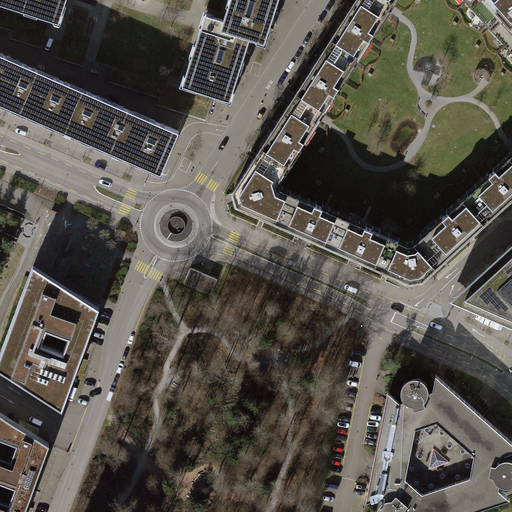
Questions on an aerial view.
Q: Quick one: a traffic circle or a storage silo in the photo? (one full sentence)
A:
I can see a traffic circle in this picture.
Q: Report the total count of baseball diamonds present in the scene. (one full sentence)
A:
Not a single baseball diamond can be seen.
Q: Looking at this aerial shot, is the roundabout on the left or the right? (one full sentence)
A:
The roundabout appears in the left half of the scene.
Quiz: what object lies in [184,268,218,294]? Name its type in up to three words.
building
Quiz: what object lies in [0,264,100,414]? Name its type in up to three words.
building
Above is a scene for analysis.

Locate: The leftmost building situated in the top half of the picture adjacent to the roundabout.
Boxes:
[0,50,179,178]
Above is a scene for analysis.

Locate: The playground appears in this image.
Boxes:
[413,56,442,86]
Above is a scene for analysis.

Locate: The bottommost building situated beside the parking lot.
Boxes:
[363,371,512,512]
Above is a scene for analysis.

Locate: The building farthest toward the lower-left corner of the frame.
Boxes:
[0,412,50,512]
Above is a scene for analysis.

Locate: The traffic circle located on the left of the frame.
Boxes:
[140,189,212,260]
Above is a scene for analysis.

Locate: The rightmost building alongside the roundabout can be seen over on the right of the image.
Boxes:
[232,0,512,286]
